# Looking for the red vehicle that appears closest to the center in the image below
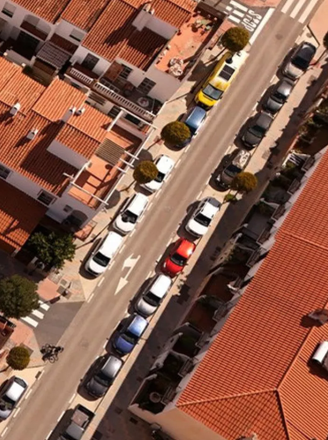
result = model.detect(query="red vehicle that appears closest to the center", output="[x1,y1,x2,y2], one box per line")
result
[161,237,196,280]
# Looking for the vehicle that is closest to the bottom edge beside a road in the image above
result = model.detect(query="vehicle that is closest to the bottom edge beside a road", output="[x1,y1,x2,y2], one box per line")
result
[51,402,95,440]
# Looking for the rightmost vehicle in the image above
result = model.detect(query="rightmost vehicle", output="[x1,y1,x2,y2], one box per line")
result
[280,40,316,82]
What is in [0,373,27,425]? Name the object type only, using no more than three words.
car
